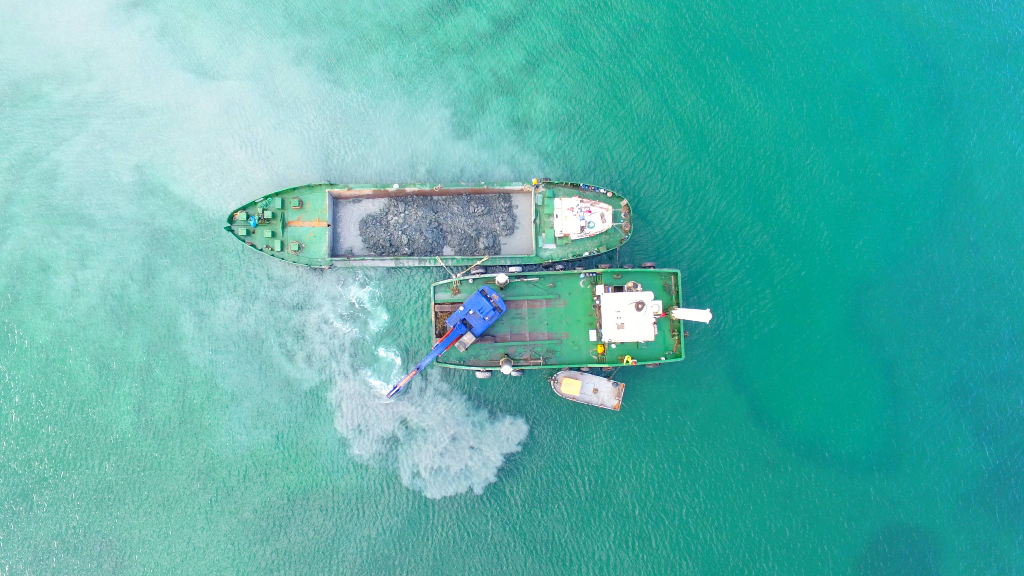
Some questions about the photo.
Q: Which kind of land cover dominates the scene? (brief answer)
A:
water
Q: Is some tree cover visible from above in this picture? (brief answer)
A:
No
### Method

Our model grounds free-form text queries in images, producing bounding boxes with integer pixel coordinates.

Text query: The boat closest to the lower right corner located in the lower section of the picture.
[551,370,625,410]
